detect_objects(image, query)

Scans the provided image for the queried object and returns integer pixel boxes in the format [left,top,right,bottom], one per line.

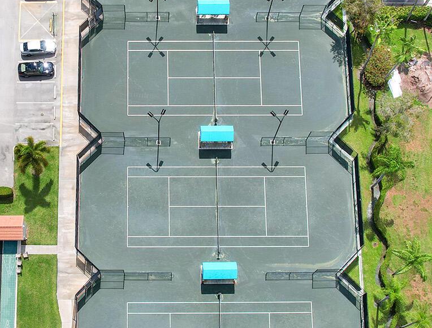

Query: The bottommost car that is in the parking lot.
[18,63,53,80]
